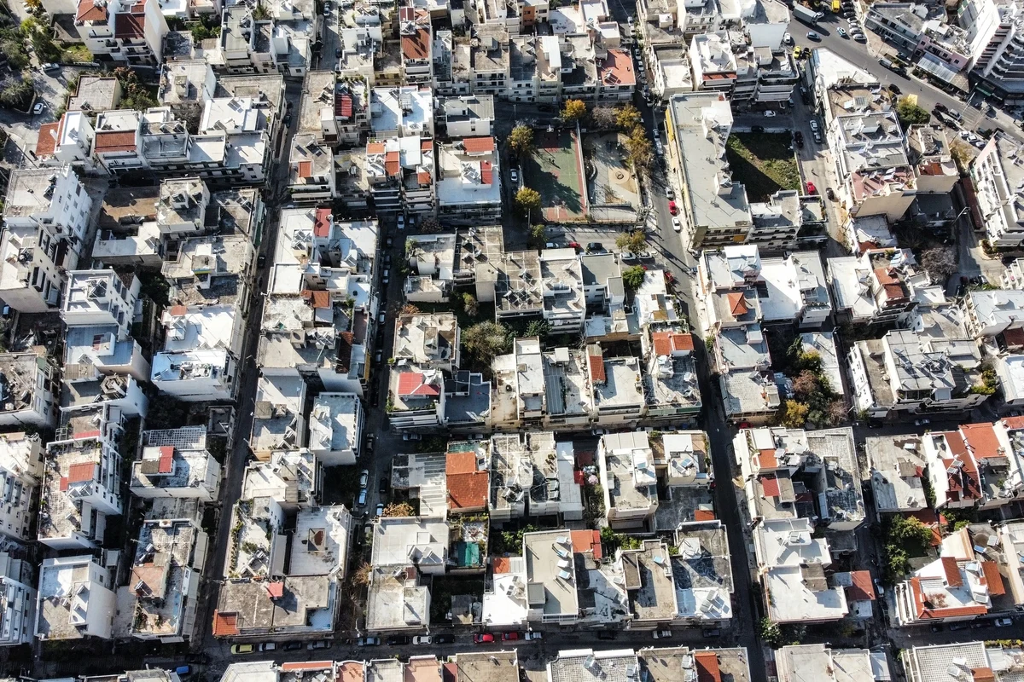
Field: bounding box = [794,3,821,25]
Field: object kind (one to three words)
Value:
truck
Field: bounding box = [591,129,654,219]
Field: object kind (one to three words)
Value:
playground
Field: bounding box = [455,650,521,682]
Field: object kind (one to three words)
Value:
building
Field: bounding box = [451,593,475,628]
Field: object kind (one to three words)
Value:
shed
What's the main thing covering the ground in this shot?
buildings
